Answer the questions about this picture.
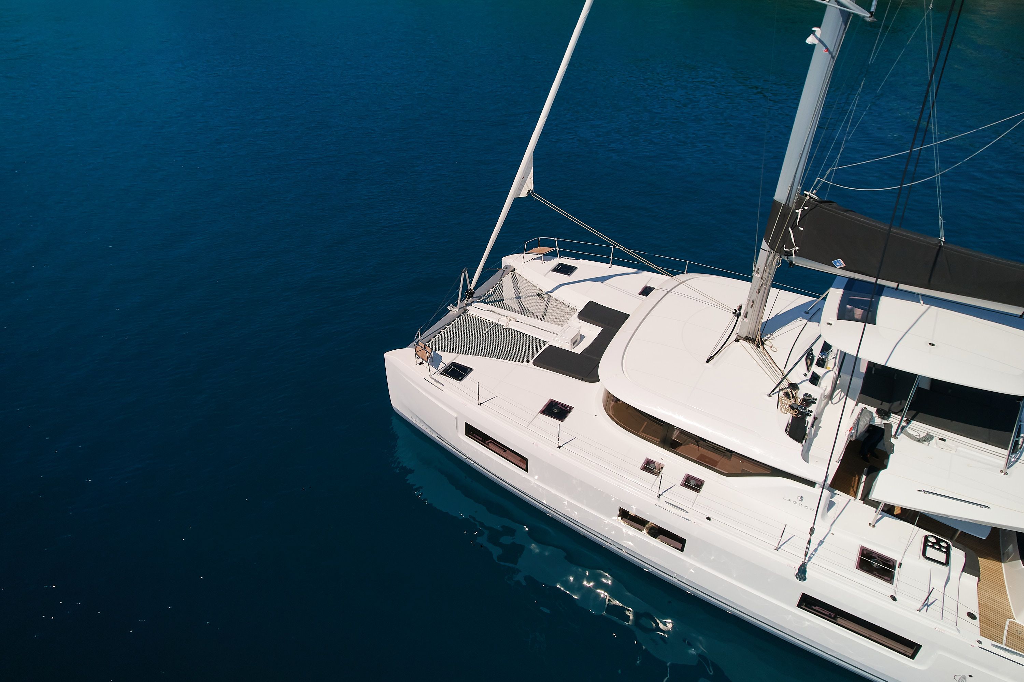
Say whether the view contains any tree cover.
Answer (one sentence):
No, tree cover can't be seen anywhere here.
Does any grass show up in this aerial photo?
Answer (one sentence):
No, no grass is visible.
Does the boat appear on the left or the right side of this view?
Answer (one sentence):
The boat sits on the right side.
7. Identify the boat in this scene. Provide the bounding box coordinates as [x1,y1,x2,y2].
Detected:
[383,0,1024,682]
